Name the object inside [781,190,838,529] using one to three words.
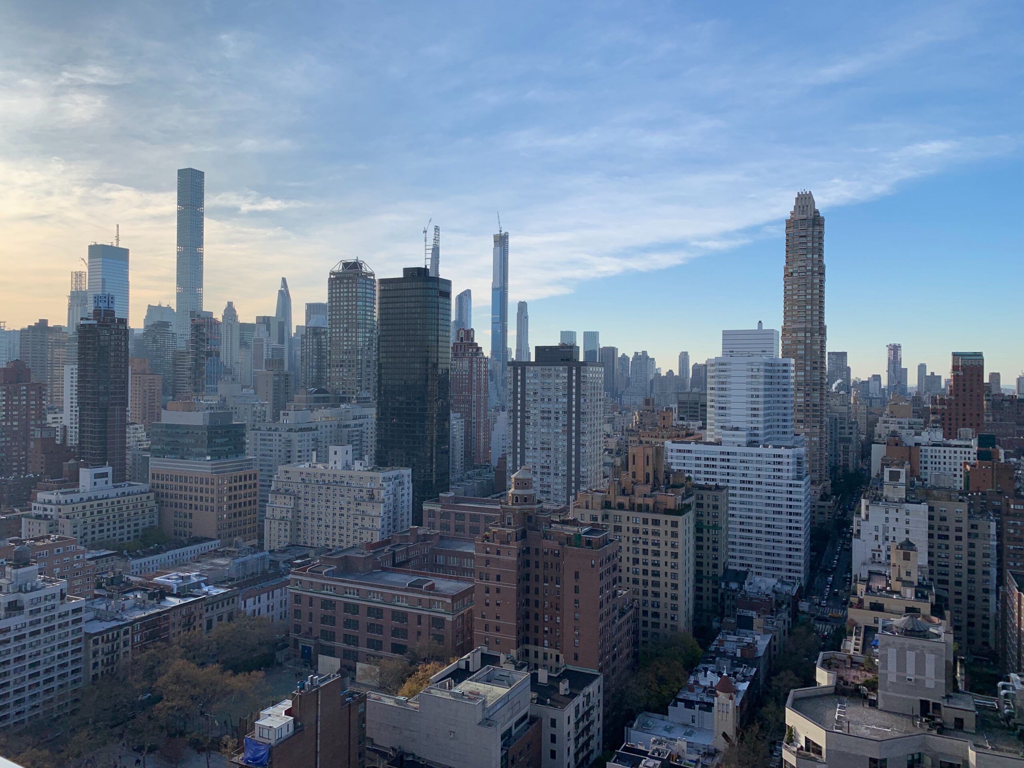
building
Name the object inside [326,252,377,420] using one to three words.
building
